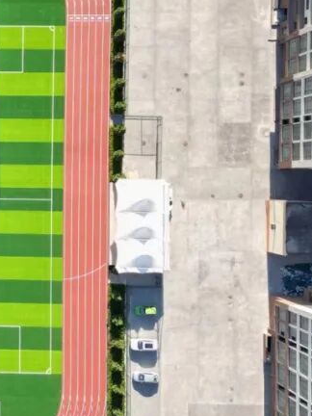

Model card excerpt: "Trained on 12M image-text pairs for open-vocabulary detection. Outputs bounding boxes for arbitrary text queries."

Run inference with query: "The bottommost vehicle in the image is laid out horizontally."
[133,372,161,385]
